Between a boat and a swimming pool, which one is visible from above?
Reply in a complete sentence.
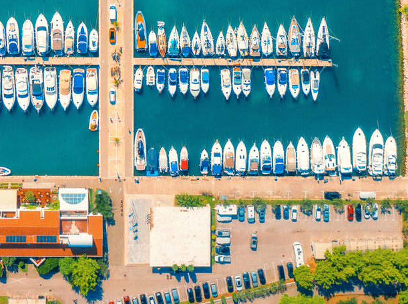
There is a boat in the scene.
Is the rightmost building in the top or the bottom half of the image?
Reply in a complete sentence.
The rightmost building sits in the bottom half of the picture.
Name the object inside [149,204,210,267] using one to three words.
building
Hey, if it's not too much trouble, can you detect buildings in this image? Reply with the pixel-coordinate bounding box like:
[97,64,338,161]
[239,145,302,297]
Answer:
[149,204,210,267]
[0,180,103,256]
